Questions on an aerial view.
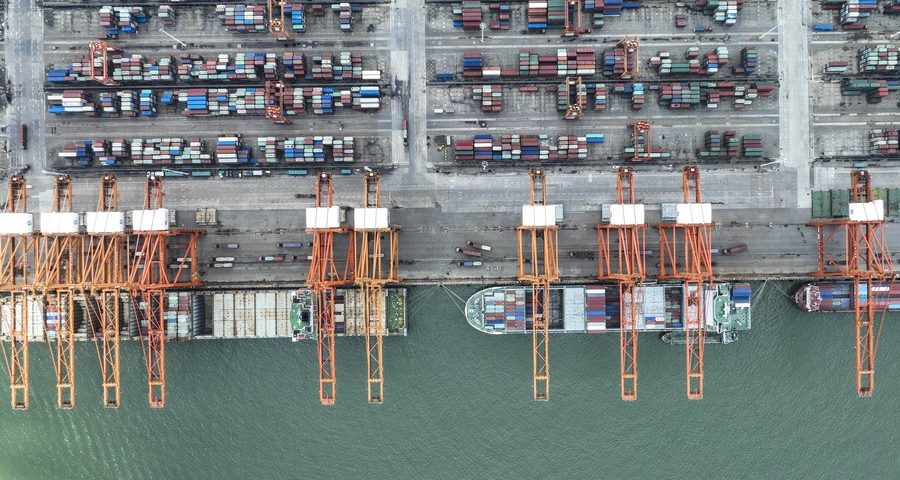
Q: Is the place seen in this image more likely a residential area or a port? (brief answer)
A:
port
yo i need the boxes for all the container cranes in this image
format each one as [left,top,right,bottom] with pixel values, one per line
[802,164,897,398]
[89,40,126,91]
[556,0,582,40]
[130,172,204,407]
[613,36,641,84]
[0,174,77,408]
[305,171,357,404]
[512,168,566,403]
[353,170,400,404]
[650,166,716,401]
[558,75,583,122]
[267,78,294,125]
[82,173,160,407]
[623,120,651,167]
[33,173,121,408]
[268,0,296,42]
[592,167,647,402]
